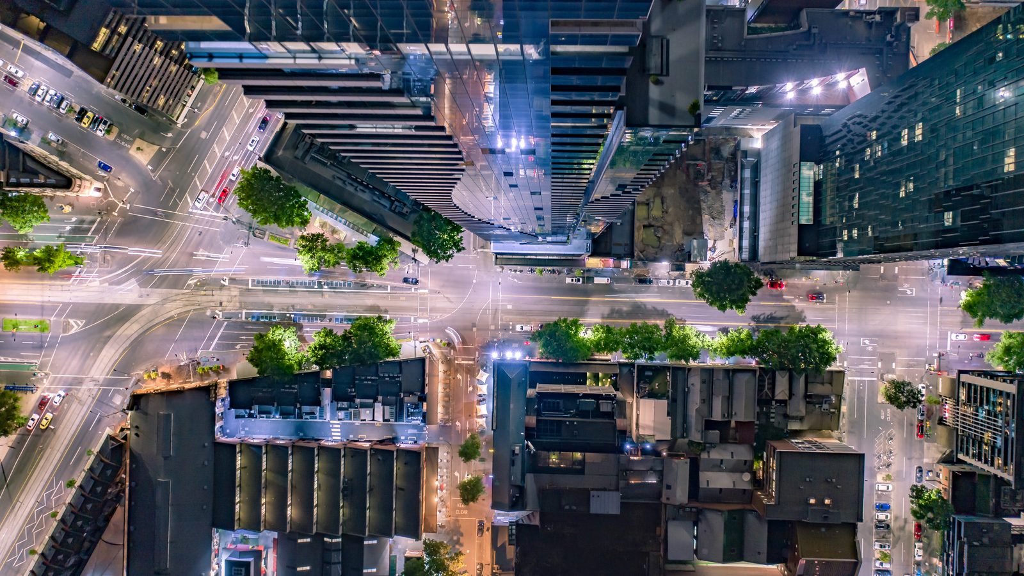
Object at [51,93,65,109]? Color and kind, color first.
blue car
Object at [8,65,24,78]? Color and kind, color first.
white vehicle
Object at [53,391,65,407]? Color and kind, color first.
white vehicle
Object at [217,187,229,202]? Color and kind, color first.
red vehicle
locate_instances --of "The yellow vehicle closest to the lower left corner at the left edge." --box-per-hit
[40,413,53,429]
